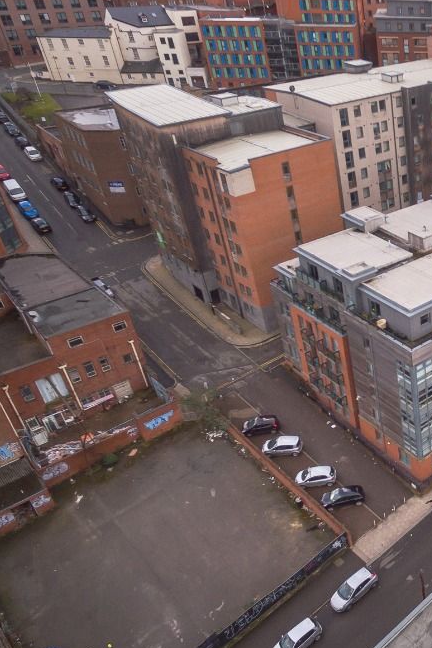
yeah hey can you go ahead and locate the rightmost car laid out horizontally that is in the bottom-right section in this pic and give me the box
[317,484,369,510]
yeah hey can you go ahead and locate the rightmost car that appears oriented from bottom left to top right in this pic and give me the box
[329,566,381,614]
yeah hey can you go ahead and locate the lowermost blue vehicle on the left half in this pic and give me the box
[16,199,39,219]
